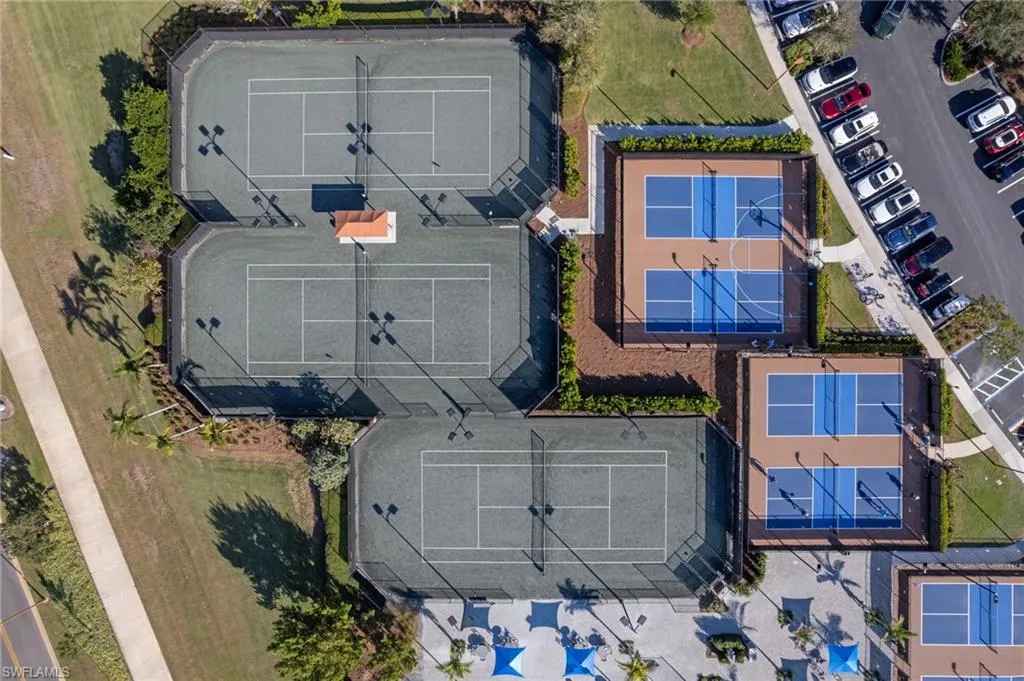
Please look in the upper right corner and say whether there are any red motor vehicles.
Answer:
Yes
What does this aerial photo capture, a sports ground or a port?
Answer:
sports ground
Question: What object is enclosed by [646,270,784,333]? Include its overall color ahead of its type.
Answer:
blue sports court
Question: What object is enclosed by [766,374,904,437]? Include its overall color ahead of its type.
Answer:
blue sports court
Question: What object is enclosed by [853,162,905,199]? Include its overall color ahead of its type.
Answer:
white car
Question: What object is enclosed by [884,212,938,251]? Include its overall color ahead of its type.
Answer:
blue car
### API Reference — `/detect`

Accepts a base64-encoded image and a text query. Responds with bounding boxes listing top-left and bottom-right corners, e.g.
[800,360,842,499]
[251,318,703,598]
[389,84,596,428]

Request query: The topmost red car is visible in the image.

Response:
[820,83,872,119]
